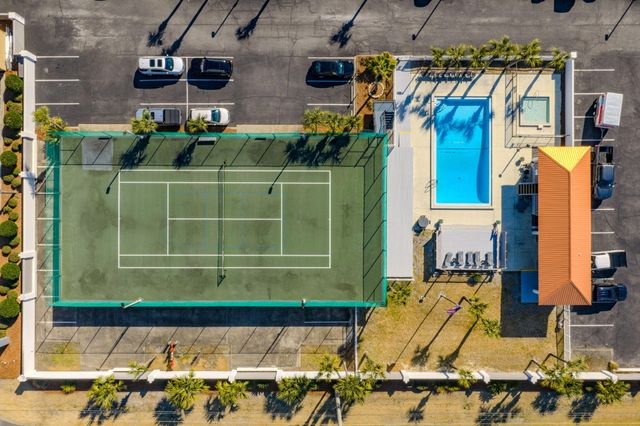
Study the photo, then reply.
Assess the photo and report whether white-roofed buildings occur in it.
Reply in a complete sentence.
No, there appears to be no white-roofed building in this shot.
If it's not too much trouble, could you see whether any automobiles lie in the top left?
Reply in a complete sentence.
Yes, there is an automobile in the top left.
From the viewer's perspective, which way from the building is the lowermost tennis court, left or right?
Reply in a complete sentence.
The lowermost tennis court appears to the left of the building in this view.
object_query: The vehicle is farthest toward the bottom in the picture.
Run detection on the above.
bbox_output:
[592,284,626,304]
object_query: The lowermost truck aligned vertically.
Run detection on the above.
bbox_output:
[592,147,616,200]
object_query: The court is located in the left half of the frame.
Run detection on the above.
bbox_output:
[59,137,388,302]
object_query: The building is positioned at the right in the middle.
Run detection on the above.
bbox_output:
[531,146,592,305]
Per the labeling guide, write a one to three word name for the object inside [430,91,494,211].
swimming pool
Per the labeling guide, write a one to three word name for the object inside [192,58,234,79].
car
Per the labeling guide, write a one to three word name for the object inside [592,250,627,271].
truck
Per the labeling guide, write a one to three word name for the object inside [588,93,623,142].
trailer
